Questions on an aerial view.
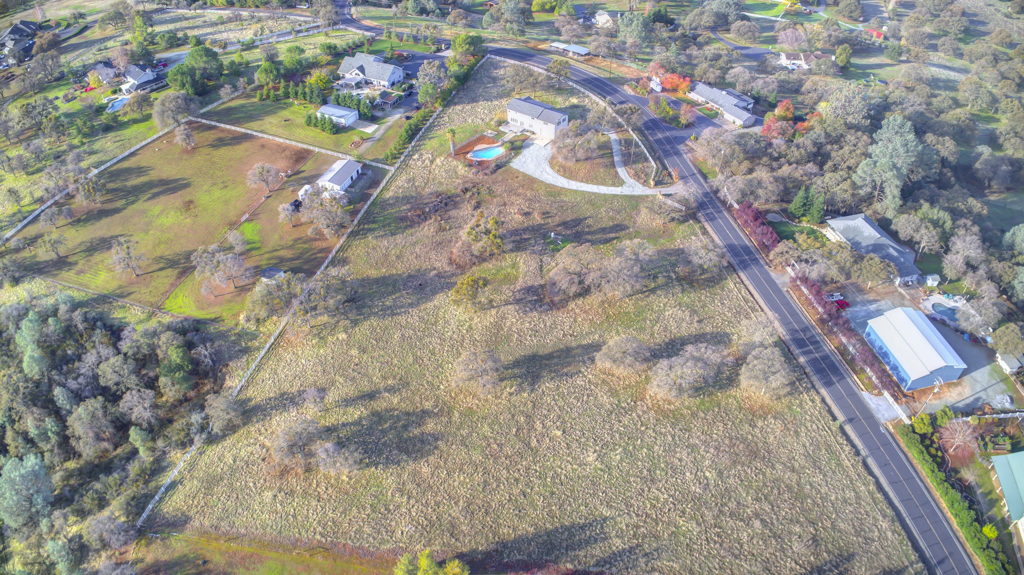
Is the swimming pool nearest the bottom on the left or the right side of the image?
right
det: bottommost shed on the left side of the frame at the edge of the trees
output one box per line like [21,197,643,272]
[259,261,284,282]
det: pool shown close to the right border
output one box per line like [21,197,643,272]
[921,295,995,339]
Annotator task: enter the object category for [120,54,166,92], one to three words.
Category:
house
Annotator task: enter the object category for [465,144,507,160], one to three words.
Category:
swimming pool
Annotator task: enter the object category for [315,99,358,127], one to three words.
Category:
building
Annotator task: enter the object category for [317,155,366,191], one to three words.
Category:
barn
